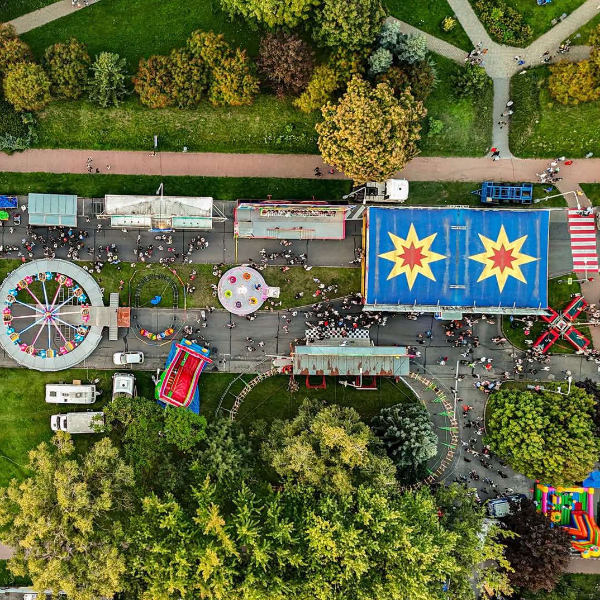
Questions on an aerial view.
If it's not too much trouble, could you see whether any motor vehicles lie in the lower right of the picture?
Yes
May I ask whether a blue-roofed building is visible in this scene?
Yes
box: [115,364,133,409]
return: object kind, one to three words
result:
vehicle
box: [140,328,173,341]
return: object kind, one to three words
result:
train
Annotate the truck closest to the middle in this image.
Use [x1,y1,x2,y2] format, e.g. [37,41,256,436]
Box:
[361,179,407,201]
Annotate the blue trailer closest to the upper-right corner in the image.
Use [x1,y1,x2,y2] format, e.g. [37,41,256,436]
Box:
[465,181,531,204]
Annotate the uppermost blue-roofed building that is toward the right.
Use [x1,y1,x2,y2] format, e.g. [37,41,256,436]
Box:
[355,206,554,315]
